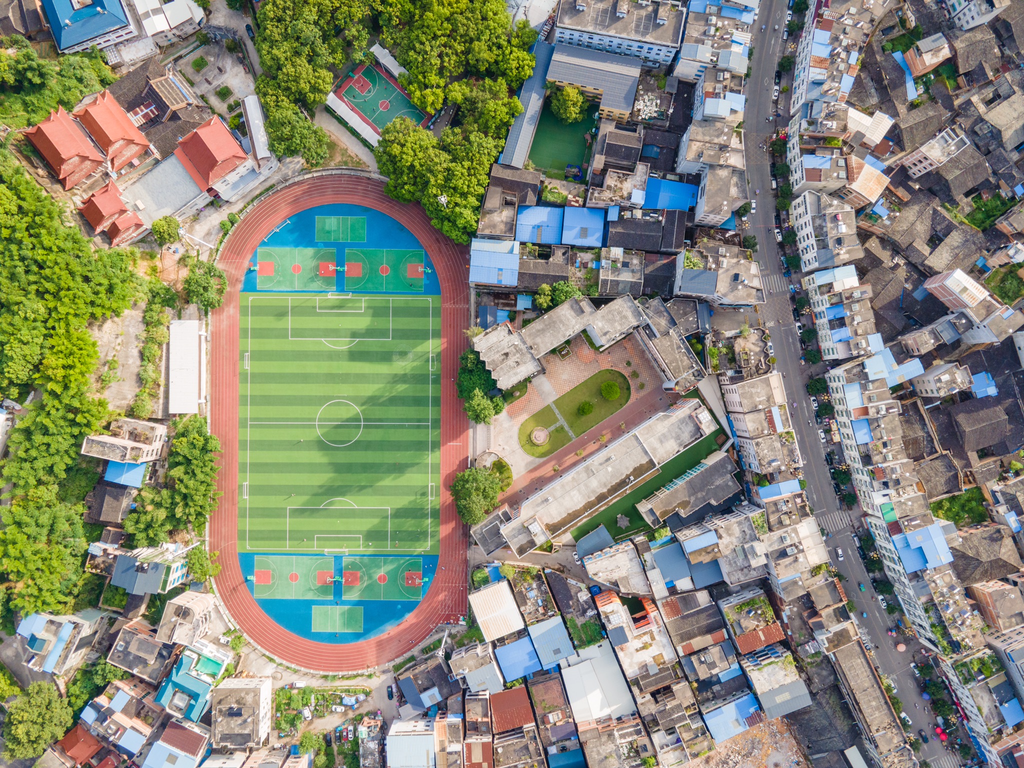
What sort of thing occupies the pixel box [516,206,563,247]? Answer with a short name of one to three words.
shed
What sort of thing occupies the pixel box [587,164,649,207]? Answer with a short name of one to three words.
house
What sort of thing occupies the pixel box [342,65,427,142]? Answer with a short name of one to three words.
basketball court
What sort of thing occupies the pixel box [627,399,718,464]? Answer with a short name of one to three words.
building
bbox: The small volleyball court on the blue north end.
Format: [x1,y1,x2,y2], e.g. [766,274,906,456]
[315,216,366,242]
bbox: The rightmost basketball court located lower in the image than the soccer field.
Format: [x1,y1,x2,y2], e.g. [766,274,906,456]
[342,558,422,601]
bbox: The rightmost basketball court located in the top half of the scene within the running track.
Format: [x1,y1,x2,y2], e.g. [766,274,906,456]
[345,248,424,292]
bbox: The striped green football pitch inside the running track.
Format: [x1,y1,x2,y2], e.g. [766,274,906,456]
[238,292,441,555]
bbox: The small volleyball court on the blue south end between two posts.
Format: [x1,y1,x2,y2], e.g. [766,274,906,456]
[312,606,363,632]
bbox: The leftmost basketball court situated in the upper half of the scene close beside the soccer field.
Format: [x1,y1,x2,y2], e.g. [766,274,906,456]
[257,248,336,290]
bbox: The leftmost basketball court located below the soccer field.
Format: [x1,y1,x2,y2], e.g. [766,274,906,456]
[254,556,333,600]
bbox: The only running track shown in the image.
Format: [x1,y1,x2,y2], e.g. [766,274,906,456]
[209,174,469,673]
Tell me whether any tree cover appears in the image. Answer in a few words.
Yes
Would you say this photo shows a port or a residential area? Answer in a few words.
residential area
